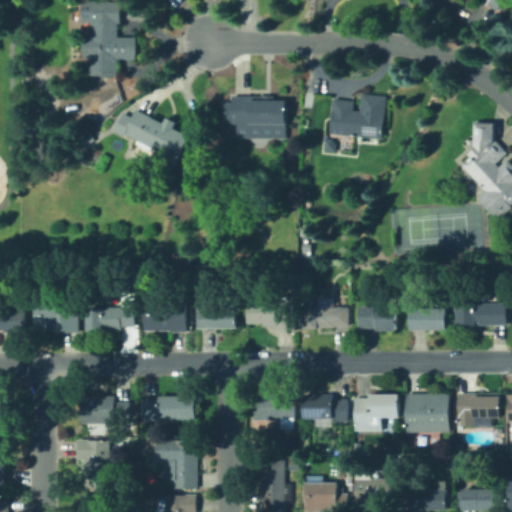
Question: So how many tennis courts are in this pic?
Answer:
1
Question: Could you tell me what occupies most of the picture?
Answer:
trees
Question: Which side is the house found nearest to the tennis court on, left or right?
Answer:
right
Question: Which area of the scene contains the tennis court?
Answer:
right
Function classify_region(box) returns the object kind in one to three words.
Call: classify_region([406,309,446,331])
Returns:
house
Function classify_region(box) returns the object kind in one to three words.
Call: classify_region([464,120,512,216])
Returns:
house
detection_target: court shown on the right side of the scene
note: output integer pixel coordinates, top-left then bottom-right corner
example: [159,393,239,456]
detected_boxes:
[394,204,485,258]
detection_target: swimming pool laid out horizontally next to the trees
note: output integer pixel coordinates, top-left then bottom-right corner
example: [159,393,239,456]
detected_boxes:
[466,432,494,445]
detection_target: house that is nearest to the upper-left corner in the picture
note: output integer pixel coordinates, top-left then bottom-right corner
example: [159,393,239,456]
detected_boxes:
[80,2,136,76]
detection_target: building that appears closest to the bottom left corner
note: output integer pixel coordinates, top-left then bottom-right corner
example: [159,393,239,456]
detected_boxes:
[75,440,110,462]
